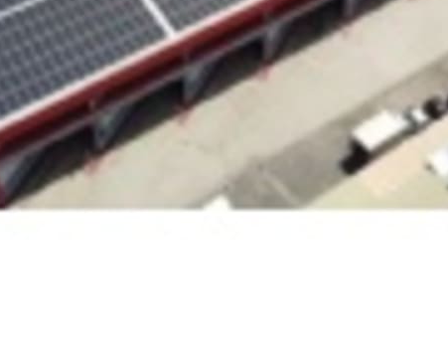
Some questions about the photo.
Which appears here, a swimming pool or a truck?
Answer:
truck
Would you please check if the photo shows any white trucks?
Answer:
Yes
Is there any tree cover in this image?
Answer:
No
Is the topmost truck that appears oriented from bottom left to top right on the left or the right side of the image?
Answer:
right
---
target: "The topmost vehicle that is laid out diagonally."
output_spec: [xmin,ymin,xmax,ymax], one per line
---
[420,91,448,120]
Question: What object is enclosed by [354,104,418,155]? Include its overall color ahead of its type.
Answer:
white truck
